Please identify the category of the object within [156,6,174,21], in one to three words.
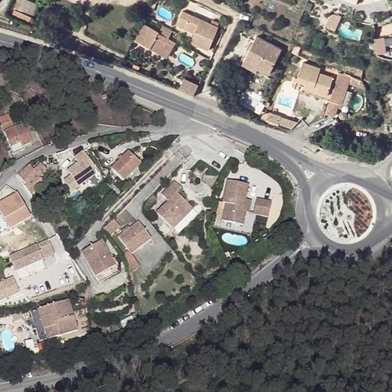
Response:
swimming pool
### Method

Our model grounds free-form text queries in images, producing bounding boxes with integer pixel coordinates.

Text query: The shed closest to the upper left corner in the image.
[13,0,37,22]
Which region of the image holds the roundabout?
right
